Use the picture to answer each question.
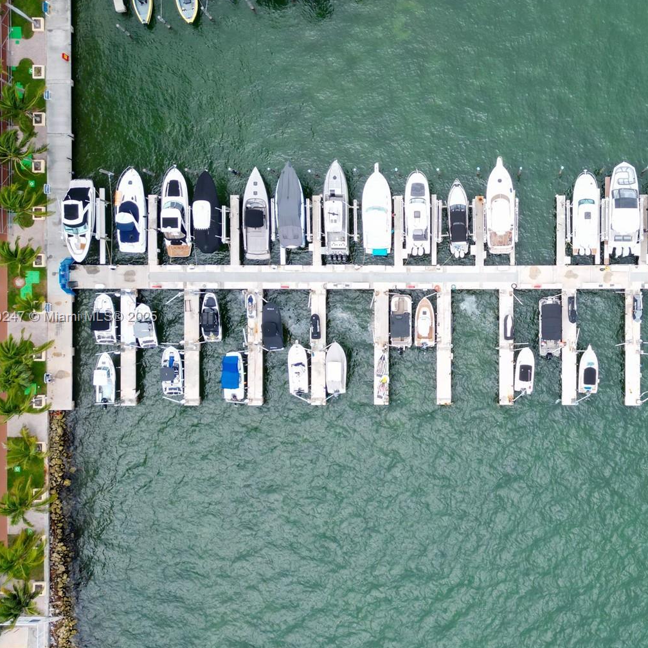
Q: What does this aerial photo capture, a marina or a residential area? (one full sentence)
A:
This looks like a marina.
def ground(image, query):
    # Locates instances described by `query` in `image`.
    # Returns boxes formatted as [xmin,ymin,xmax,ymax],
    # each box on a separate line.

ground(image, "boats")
[404,168,430,255]
[93,353,120,409]
[571,168,600,257]
[115,165,149,254]
[538,296,563,361]
[326,342,348,398]
[62,180,97,262]
[176,0,200,23]
[130,0,156,24]
[133,302,161,348]
[515,347,535,394]
[201,292,223,342]
[415,297,436,350]
[247,294,256,318]
[259,300,285,355]
[609,162,640,259]
[90,293,119,345]
[276,162,306,249]
[447,177,469,259]
[160,163,194,258]
[287,339,309,396]
[486,155,515,258]
[323,160,351,262]
[578,345,599,396]
[243,167,270,261]
[363,161,392,256]
[390,293,412,355]
[193,168,223,254]
[223,352,248,405]
[160,347,185,394]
